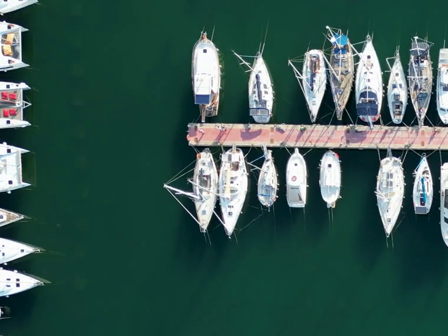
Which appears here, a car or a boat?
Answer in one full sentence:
I can see a boat in this picture.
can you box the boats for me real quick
[0,143,38,195]
[375,151,406,242]
[319,146,345,218]
[193,141,251,246]
[171,143,220,244]
[0,207,34,230]
[0,0,42,17]
[438,161,448,242]
[353,26,385,129]
[0,238,42,264]
[0,80,49,133]
[240,44,274,131]
[293,33,329,131]
[283,147,309,216]
[434,44,448,130]
[0,269,61,297]
[406,35,435,132]
[386,41,408,130]
[411,147,435,230]
[323,22,356,128]
[191,27,222,123]
[0,21,52,77]
[253,146,281,215]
